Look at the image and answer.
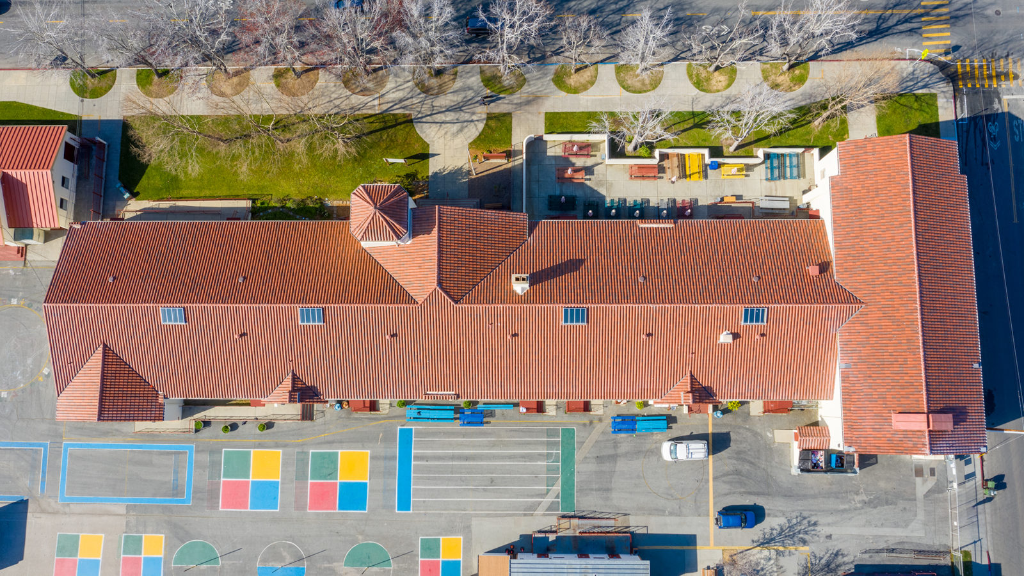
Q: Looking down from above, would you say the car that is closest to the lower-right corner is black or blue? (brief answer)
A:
blue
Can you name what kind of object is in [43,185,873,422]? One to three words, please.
building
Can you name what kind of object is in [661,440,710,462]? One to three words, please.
truck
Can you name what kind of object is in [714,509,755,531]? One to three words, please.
car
